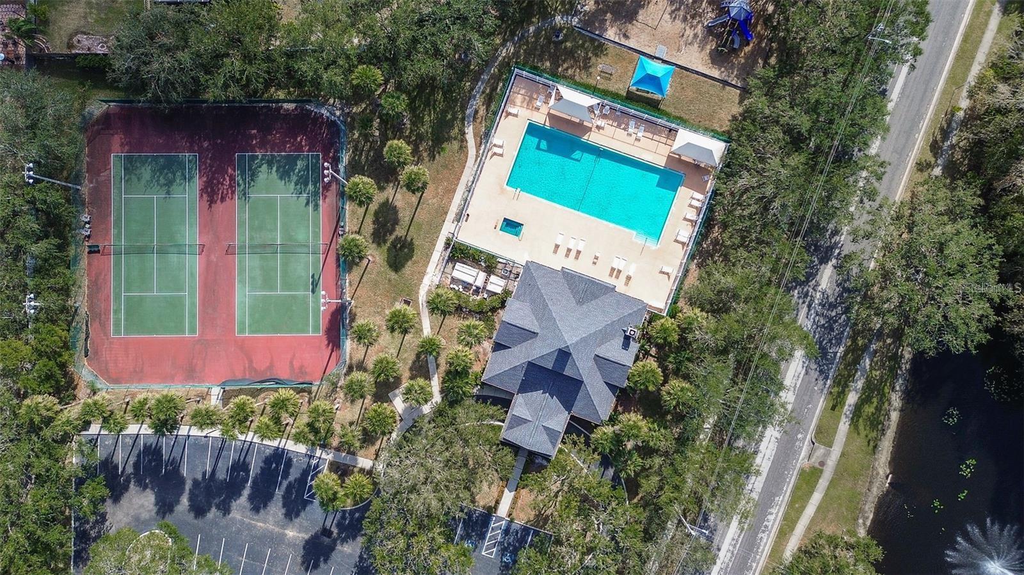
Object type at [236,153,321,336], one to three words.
tennis court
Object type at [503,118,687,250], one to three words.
swimming pool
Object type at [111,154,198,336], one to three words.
tennis court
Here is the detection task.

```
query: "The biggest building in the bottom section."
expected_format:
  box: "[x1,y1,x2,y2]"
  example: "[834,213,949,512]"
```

[481,260,646,455]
